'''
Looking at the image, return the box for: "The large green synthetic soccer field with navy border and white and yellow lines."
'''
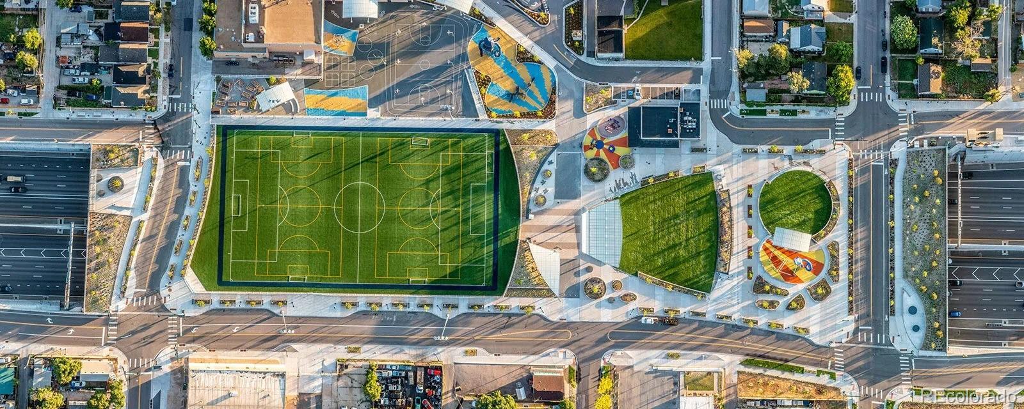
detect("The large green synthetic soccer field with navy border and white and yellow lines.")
[190,124,520,295]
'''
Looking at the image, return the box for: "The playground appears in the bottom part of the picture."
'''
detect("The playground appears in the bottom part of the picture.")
[759,235,827,285]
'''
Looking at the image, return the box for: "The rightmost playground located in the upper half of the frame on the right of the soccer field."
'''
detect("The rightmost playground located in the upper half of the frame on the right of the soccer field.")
[582,114,632,176]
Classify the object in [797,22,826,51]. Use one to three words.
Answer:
house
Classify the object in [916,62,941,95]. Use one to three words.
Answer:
house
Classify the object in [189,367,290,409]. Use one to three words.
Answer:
building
